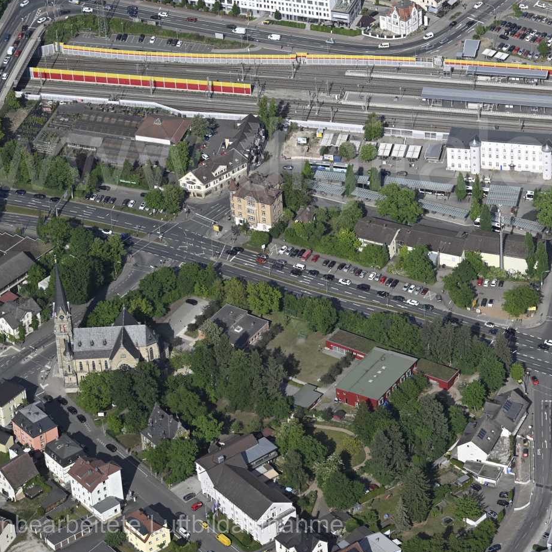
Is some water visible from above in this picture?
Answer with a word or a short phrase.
No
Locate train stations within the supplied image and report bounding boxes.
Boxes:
[446,126,552,178]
